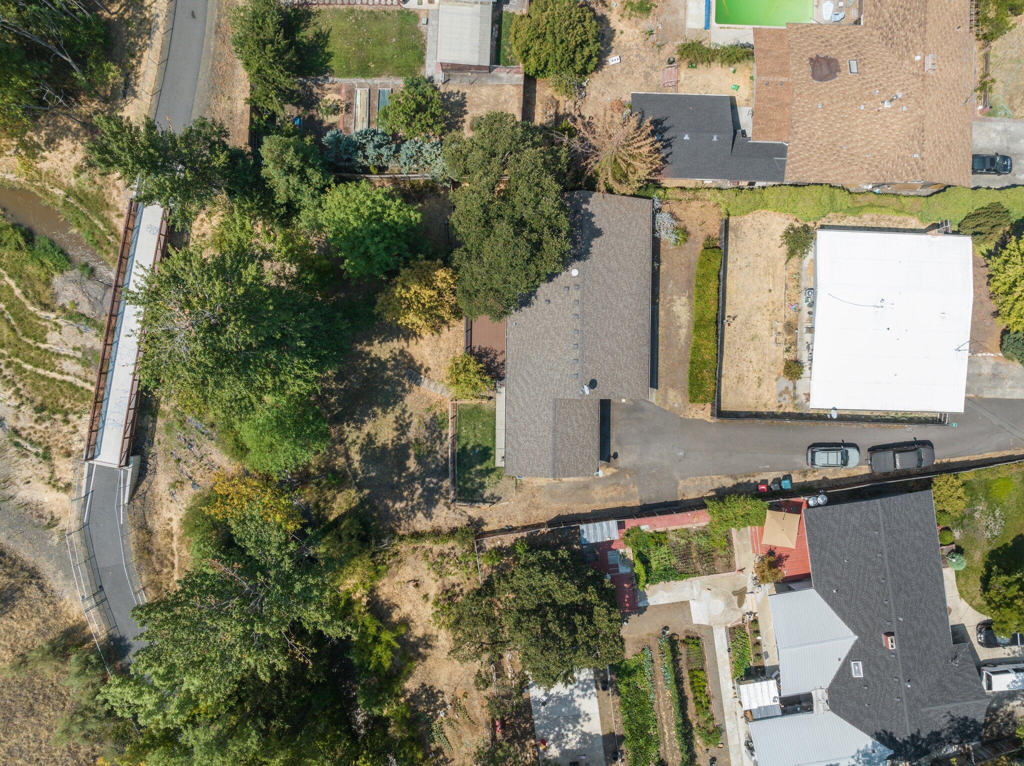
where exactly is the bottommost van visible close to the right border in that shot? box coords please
[978,663,1024,695]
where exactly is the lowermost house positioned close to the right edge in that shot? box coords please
[798,489,989,766]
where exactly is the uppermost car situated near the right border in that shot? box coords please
[971,150,1011,177]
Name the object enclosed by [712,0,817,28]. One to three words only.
swimming pool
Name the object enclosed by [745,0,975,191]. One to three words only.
house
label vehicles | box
[978,663,1024,695]
[805,444,860,470]
[973,621,1021,648]
[865,444,936,473]
[971,150,1011,177]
